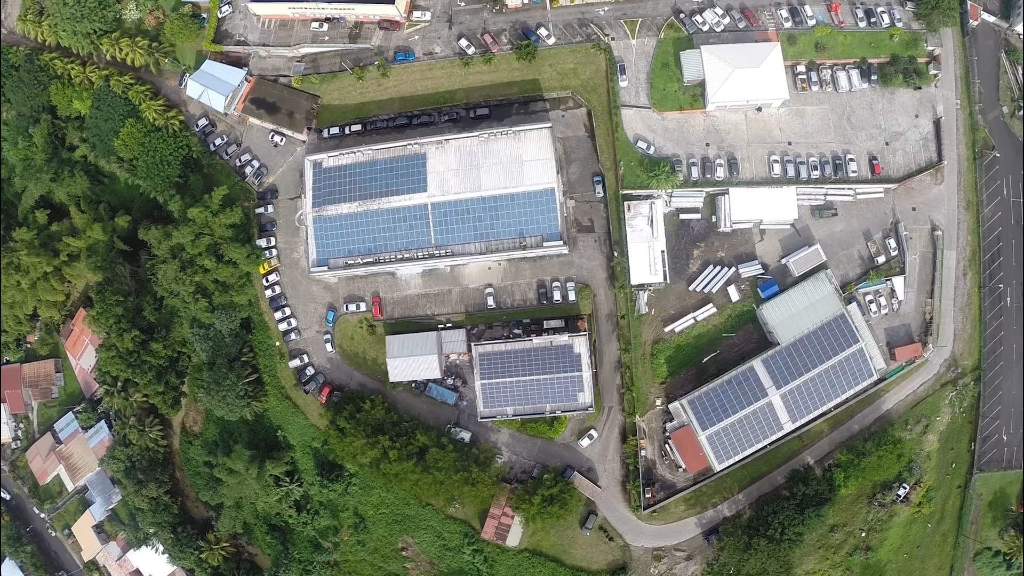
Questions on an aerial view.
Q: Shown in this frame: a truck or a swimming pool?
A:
truck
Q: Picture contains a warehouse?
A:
Yes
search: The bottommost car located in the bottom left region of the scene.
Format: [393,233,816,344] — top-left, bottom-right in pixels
[43,519,60,538]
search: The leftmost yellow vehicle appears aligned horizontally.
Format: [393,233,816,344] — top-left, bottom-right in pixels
[261,259,282,271]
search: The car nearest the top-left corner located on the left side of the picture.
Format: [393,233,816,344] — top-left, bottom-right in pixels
[178,71,192,91]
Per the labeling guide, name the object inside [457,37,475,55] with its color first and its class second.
white car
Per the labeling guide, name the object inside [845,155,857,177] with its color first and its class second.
white vehicle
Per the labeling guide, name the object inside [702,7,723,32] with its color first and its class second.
white vehicle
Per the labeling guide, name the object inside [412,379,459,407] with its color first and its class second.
blue truck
